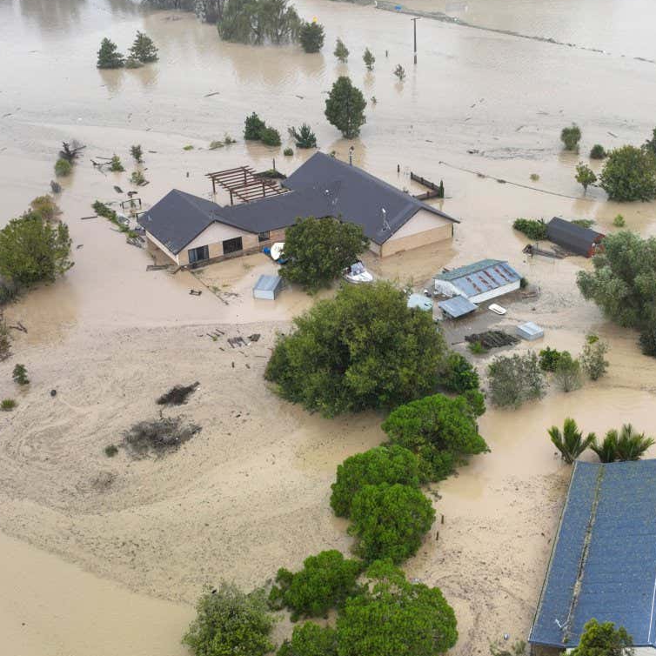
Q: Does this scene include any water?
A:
Yes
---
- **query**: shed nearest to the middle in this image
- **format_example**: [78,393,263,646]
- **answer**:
[250,271,284,298]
